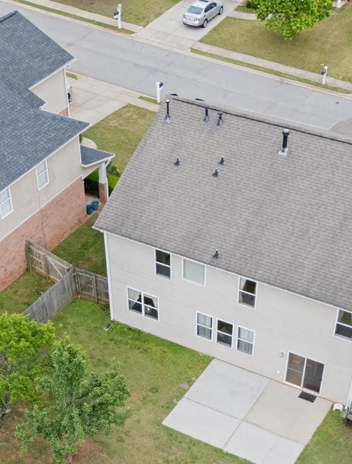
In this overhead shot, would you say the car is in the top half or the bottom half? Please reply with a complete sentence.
The car is in the top half of the image.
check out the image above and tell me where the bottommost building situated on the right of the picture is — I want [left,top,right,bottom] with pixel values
[91,98,352,409]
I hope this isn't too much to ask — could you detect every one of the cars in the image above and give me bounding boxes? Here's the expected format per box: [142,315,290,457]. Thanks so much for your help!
[185,0,221,25]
